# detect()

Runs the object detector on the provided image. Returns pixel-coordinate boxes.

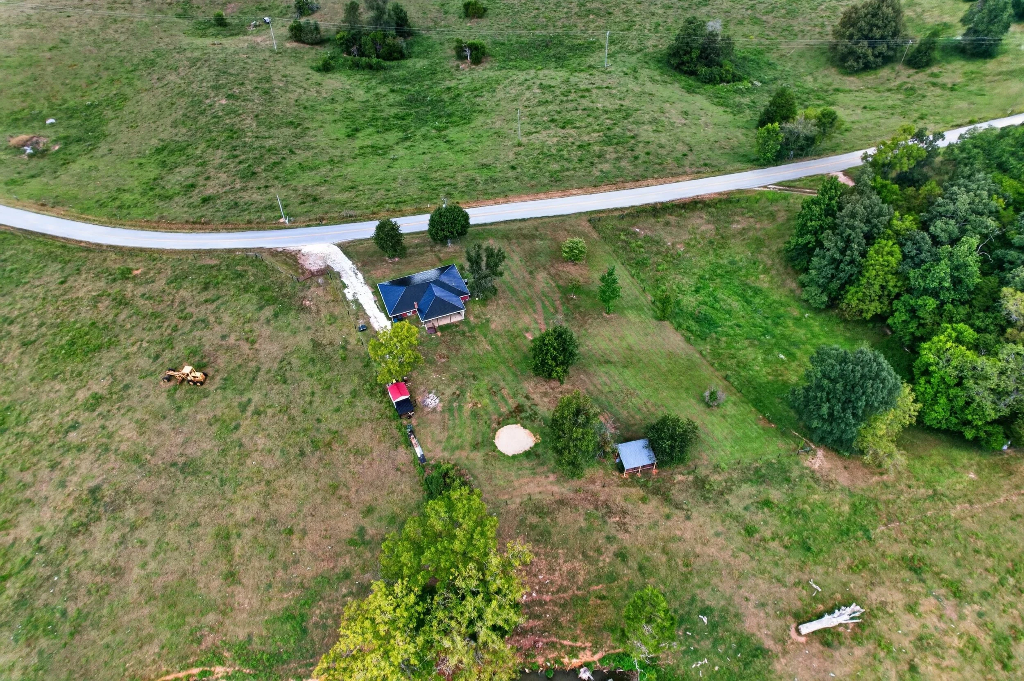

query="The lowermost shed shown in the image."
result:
[615,439,656,477]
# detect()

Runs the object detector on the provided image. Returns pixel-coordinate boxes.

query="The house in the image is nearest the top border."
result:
[375,265,474,338]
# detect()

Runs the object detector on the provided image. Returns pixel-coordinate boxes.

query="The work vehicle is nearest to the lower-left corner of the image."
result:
[161,364,206,384]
